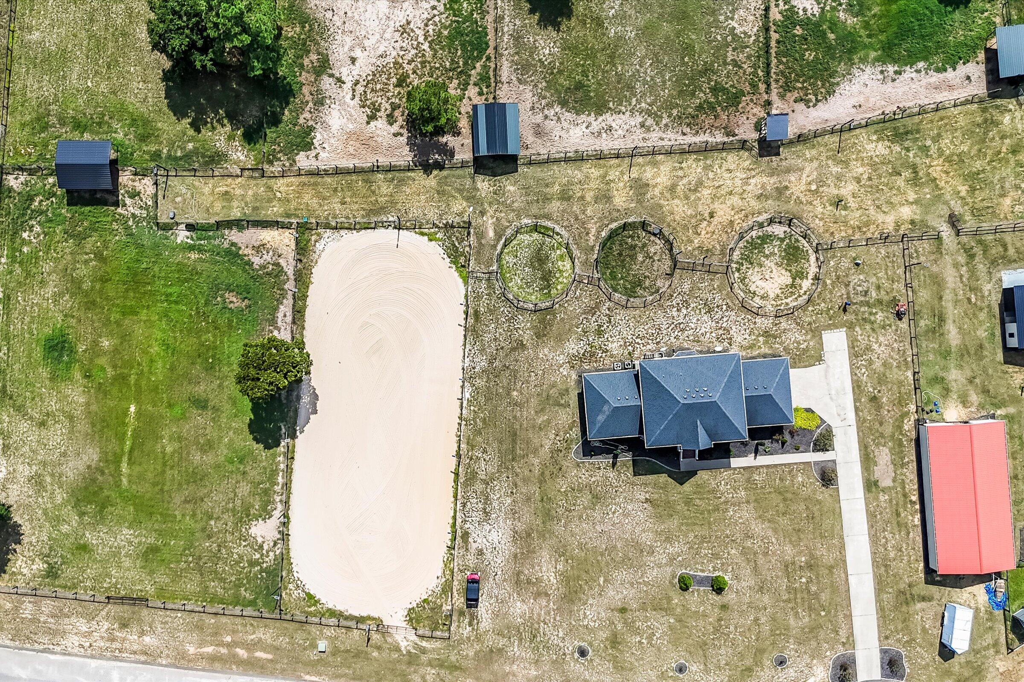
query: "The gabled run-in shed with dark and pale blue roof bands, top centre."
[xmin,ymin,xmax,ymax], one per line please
[472,102,520,157]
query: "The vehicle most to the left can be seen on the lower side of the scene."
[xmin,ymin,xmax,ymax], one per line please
[465,573,481,610]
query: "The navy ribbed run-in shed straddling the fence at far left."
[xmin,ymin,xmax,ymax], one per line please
[55,140,119,190]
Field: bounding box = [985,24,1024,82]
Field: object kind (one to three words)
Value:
shed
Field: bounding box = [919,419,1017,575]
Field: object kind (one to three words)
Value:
barn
